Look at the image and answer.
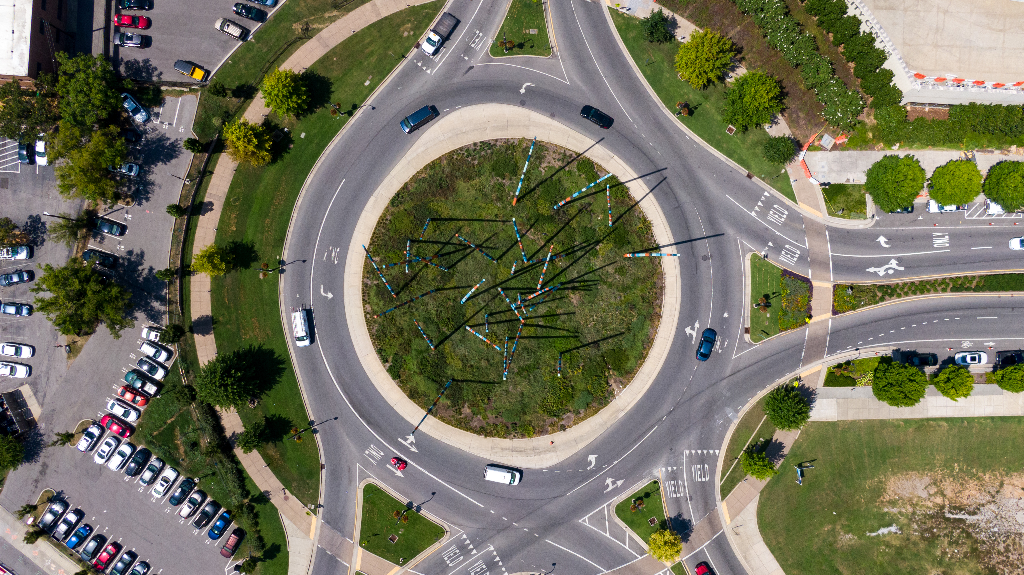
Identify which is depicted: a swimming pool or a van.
van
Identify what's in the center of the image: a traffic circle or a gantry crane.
traffic circle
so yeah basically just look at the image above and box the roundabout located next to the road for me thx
[344,103,681,469]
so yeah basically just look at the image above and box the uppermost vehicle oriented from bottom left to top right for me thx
[423,9,460,54]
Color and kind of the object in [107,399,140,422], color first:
white car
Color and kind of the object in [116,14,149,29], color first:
red car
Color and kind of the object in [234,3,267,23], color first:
black car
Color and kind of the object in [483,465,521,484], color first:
white vehicle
